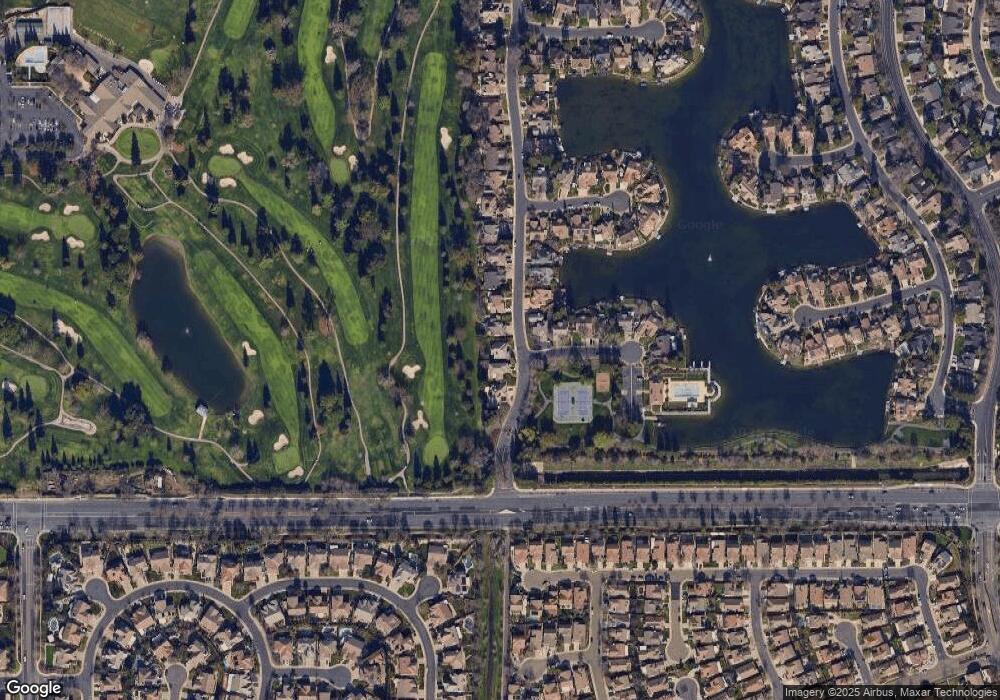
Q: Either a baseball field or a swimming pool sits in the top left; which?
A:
swimming pool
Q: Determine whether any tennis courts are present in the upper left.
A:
Yes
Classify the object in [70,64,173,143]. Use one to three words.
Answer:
building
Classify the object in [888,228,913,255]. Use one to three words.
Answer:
house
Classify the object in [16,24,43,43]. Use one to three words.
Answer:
tennis court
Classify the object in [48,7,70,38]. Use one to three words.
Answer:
tennis court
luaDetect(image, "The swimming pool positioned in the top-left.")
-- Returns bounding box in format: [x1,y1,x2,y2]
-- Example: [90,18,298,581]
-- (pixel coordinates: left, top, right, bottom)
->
[16,46,48,72]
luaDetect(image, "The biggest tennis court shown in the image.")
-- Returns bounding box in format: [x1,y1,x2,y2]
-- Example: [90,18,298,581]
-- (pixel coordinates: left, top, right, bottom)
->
[553,381,593,424]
